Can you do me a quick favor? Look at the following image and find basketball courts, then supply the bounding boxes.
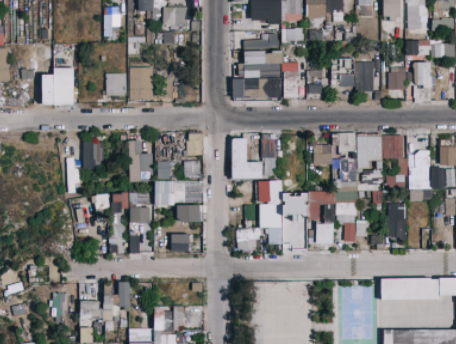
[338,286,377,344]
